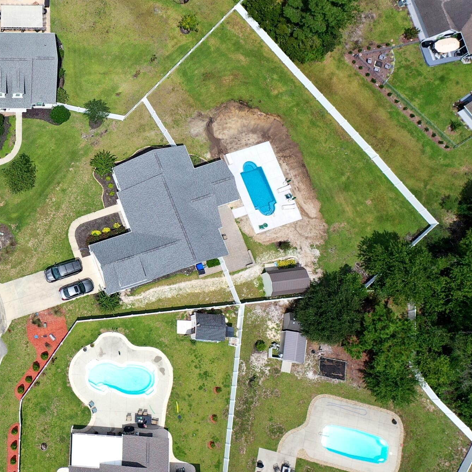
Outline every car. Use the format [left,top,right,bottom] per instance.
[60,278,95,301]
[45,257,83,279]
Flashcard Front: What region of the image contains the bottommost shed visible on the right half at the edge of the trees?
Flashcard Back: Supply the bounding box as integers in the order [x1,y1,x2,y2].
[274,331,307,363]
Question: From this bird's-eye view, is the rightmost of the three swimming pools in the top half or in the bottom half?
bottom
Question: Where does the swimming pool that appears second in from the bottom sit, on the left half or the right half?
left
